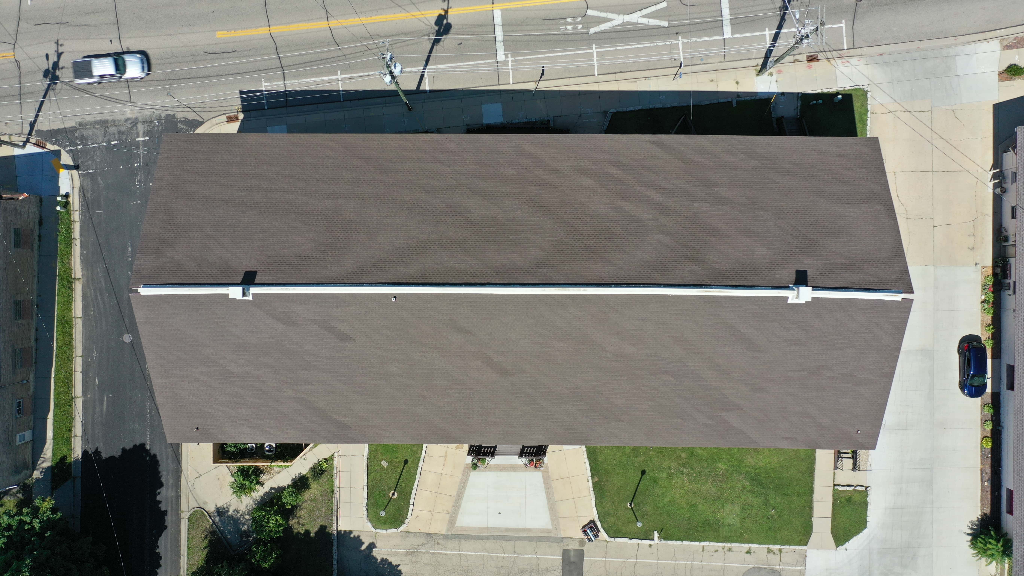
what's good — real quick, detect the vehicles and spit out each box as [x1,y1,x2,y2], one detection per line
[71,49,151,86]
[957,342,991,397]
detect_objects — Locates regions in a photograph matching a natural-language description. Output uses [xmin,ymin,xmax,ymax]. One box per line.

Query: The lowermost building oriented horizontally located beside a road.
[129,133,914,450]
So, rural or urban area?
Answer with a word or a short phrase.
urban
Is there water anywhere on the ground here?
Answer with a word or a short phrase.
No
